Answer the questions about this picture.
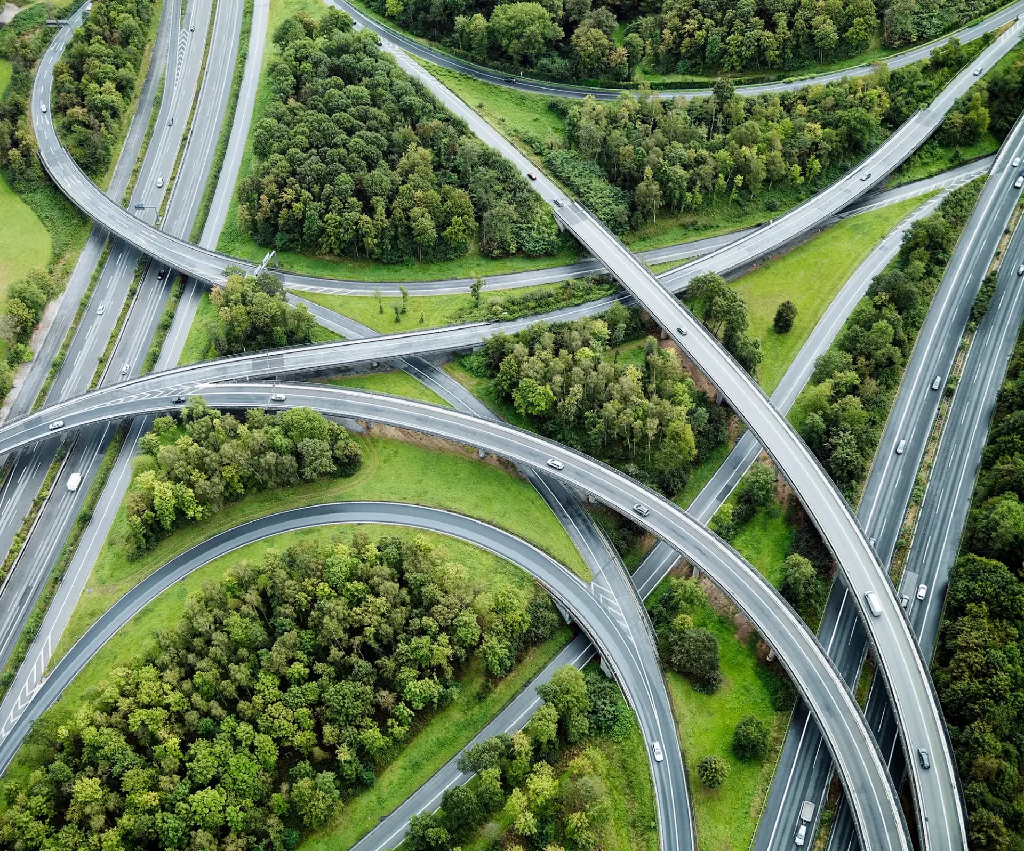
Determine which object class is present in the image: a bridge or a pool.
bridge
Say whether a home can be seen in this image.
No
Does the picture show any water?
No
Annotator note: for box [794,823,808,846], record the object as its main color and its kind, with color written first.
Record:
white car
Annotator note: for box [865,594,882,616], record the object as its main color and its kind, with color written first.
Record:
white vehicle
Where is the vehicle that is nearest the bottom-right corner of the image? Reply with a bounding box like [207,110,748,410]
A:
[918,748,931,770]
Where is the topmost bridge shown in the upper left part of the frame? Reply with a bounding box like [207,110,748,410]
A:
[41,145,244,286]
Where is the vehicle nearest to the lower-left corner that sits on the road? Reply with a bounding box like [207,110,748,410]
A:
[64,473,83,494]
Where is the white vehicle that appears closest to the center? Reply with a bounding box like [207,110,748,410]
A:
[546,458,565,470]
